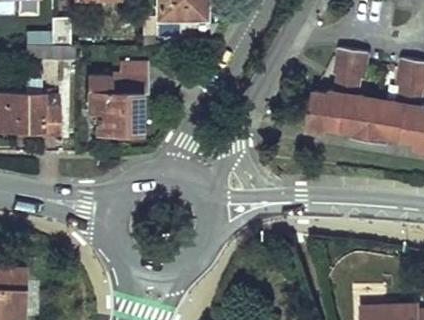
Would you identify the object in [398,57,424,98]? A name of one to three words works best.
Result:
building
